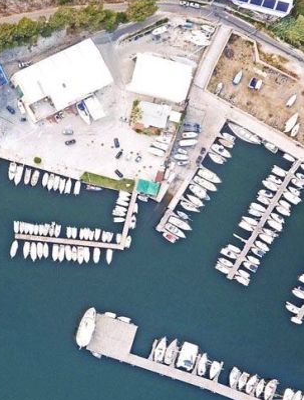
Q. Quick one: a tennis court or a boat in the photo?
boat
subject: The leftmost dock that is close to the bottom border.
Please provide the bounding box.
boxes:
[87,313,275,400]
